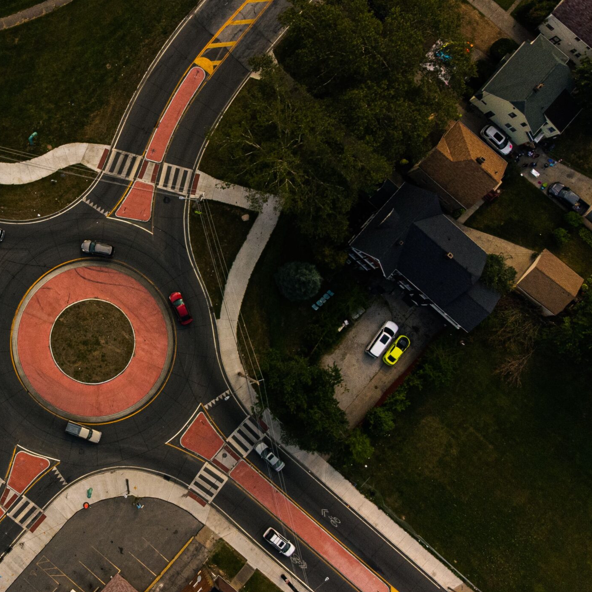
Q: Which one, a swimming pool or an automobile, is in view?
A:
automobile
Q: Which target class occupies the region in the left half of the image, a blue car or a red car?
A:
red car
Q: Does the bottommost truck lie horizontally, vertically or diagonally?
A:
diagonally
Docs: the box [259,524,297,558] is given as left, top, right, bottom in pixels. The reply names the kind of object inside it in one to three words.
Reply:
truck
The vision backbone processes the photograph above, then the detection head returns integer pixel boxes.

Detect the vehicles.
[259,524,297,558]
[253,440,289,475]
[0,228,7,245]
[64,418,103,443]
[169,291,195,328]
[545,181,588,217]
[380,333,411,368]
[476,121,512,158]
[81,238,116,259]
[364,319,399,360]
